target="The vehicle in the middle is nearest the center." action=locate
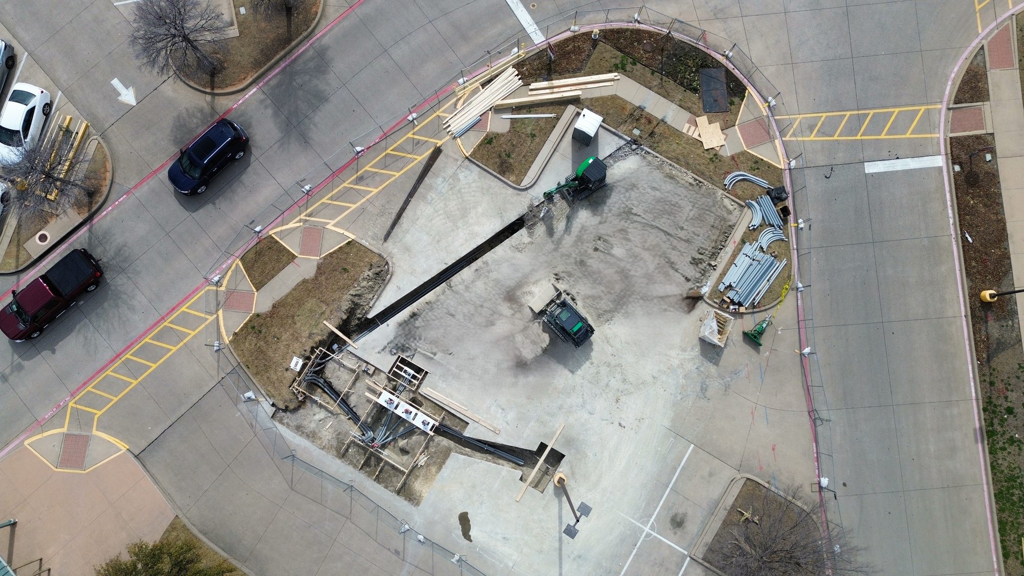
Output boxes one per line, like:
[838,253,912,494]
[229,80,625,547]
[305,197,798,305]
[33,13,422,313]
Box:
[527,283,596,347]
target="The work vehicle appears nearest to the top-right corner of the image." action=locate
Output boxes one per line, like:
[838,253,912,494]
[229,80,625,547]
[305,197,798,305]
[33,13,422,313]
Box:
[543,160,611,208]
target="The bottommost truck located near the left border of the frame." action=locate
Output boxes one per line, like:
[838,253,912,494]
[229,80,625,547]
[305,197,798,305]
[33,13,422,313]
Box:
[0,248,105,345]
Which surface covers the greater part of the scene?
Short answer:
paved ground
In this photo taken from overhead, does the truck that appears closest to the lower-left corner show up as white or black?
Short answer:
black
